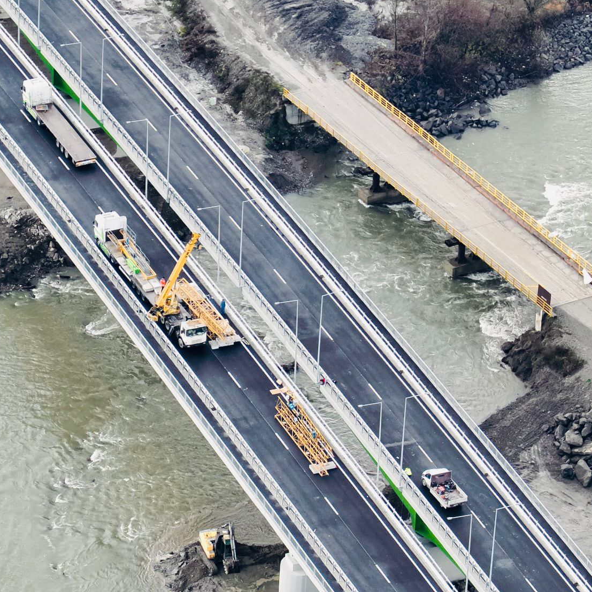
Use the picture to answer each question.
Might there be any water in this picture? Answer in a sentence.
Yes, water shows up in the scene.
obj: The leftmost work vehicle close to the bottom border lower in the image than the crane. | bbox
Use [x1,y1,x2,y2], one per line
[191,526,234,579]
